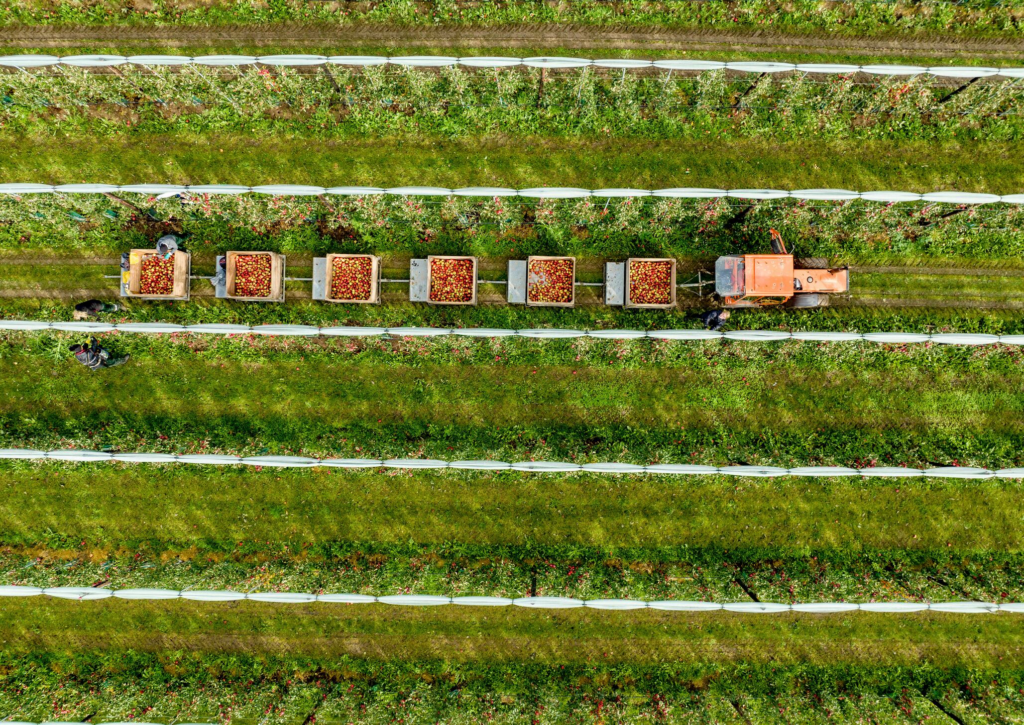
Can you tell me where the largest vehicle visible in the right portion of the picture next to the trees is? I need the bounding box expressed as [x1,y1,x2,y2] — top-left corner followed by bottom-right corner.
[682,229,852,308]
